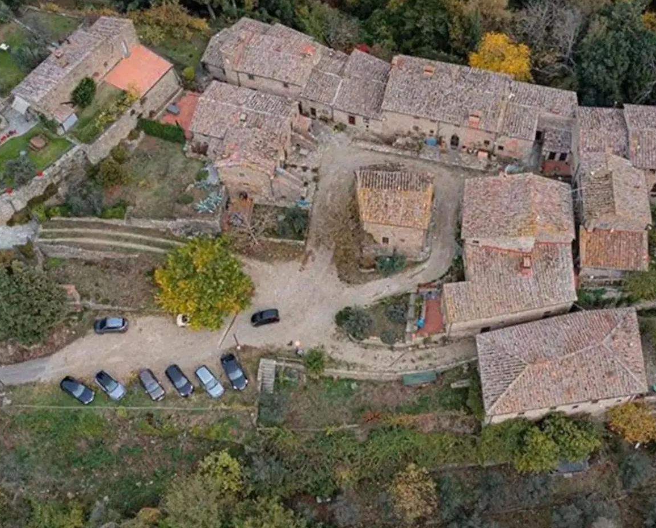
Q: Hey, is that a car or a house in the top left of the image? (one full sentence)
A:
You can see a house in the top left of the image.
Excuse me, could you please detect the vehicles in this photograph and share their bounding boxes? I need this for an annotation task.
[165,365,193,397]
[93,317,129,334]
[137,368,165,400]
[194,366,224,398]
[95,370,125,400]
[251,309,280,327]
[59,375,95,404]
[222,353,248,390]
